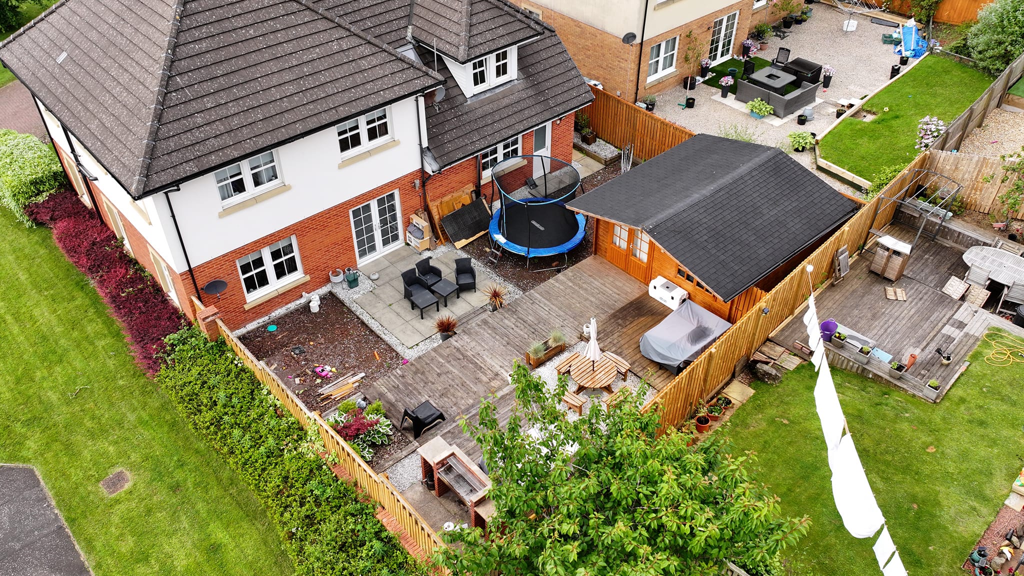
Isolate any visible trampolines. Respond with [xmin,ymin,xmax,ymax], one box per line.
[485,158,591,272]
